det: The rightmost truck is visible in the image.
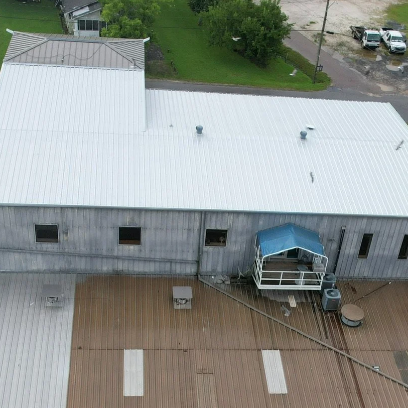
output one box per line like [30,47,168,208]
[383,27,408,53]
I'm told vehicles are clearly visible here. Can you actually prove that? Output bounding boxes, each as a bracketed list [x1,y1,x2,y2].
[354,24,384,49]
[383,27,408,53]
